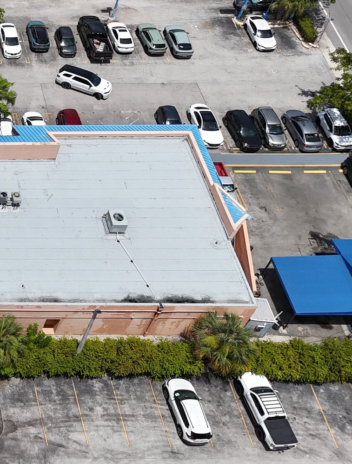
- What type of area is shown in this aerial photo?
parking lot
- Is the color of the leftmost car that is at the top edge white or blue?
white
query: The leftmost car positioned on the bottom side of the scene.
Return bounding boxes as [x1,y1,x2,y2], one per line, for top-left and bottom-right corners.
[164,379,213,445]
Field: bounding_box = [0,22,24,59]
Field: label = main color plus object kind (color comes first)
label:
white car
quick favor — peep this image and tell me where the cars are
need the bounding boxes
[55,61,116,99]
[136,23,168,57]
[107,20,136,54]
[0,22,24,59]
[188,103,224,147]
[26,19,51,53]
[229,0,279,14]
[287,111,322,153]
[55,24,79,59]
[164,379,213,445]
[248,15,279,52]
[57,104,83,125]
[226,109,262,151]
[0,110,19,135]
[23,109,49,125]
[165,26,195,60]
[157,102,184,124]
[253,104,290,150]
[321,107,352,152]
